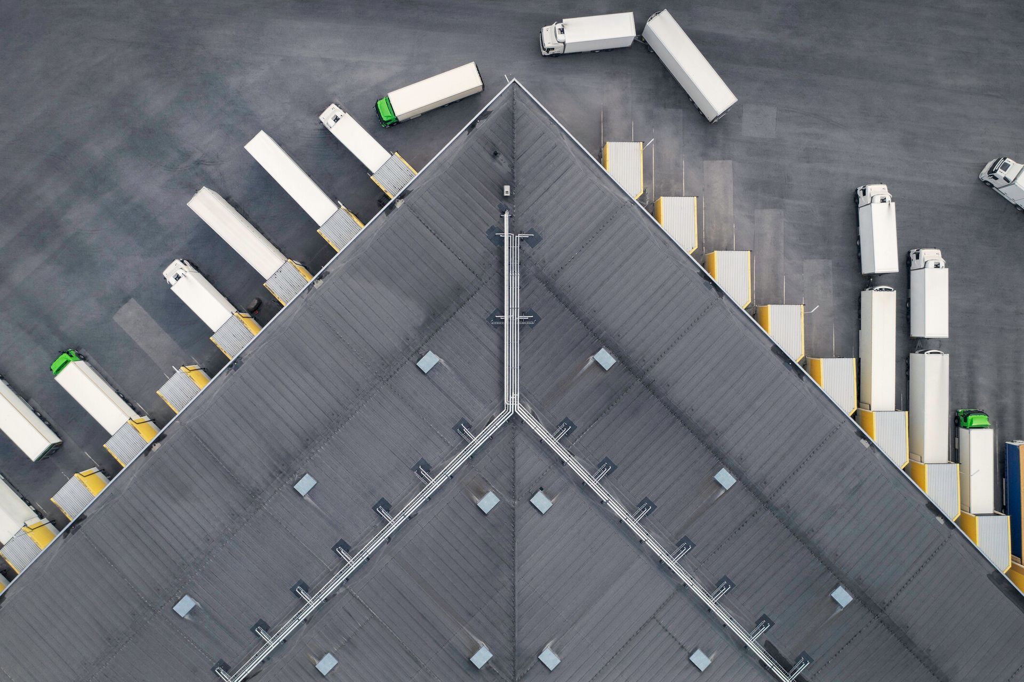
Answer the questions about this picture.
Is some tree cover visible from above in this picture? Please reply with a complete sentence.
No, there's no tree cover in this view.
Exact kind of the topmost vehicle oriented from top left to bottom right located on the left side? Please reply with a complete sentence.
It turns out the topmost vehicle oriented from top left to bottom right located on the left side is a truck.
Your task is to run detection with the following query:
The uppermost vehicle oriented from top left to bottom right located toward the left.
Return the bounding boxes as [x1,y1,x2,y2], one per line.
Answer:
[318,100,391,172]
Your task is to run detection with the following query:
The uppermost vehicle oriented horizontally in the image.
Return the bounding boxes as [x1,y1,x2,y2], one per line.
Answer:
[538,11,636,57]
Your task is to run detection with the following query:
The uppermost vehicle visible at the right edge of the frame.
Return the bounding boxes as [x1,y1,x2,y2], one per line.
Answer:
[976,154,1024,217]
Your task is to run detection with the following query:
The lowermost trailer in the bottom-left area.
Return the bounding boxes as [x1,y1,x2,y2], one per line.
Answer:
[0,474,40,543]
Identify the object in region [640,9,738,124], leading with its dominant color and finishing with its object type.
white trailer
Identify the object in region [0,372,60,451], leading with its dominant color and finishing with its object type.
white truck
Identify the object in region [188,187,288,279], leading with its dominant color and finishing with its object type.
white trailer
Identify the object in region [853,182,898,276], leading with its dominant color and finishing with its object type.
white truck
